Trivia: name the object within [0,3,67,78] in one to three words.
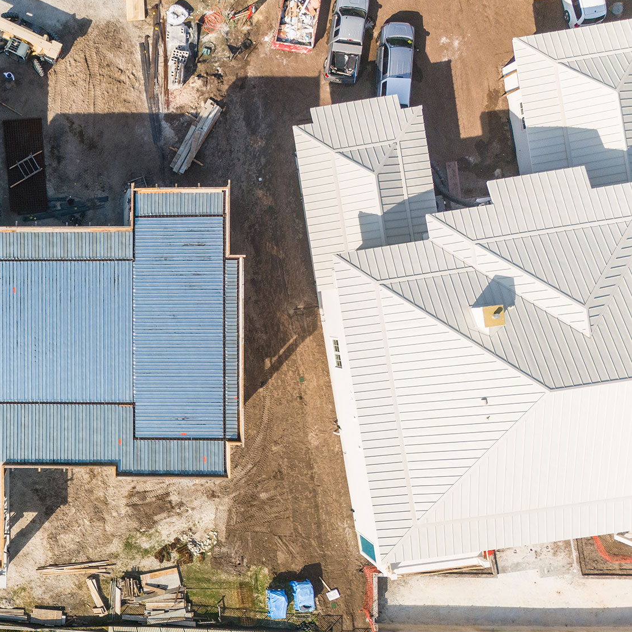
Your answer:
work vehicle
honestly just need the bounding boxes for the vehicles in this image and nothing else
[0,3,67,78]
[321,0,375,90]
[373,24,419,108]
[558,0,610,29]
